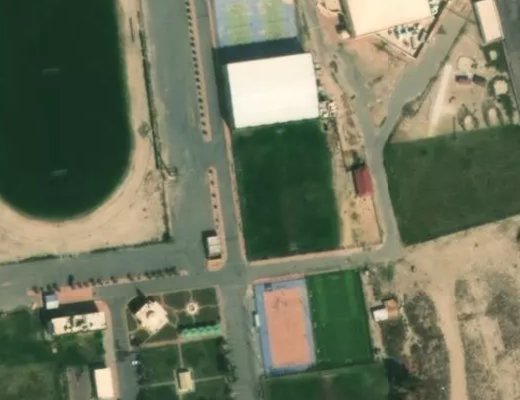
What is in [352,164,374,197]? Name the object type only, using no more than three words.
shed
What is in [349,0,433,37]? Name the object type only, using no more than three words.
building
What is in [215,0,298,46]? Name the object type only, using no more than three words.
sports court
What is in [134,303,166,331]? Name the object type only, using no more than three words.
building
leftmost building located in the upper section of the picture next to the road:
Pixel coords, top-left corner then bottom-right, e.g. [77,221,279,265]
[223,52,320,128]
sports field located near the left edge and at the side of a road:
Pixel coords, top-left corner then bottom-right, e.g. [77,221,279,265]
[0,0,131,221]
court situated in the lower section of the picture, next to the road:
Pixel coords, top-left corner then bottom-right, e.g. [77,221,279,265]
[256,278,316,376]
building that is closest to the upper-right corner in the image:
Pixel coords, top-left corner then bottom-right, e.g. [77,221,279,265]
[473,0,503,42]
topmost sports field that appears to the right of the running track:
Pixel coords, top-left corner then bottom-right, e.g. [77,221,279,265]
[232,116,341,258]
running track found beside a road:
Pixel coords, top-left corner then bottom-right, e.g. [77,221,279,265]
[0,0,152,243]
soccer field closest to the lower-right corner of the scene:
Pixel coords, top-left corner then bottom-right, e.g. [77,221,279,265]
[306,269,372,370]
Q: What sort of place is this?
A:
sports ground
